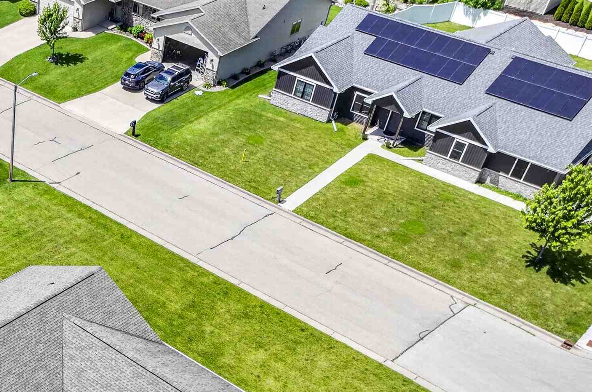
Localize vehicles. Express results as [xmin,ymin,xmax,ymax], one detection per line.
[147,59,198,97]
[127,56,173,86]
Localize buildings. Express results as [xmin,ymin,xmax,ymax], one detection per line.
[32,0,334,84]
[270,0,592,195]
[0,265,244,392]
[505,0,562,14]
